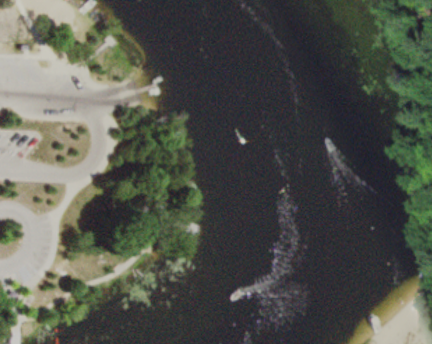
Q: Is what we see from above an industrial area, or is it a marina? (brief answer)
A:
marina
